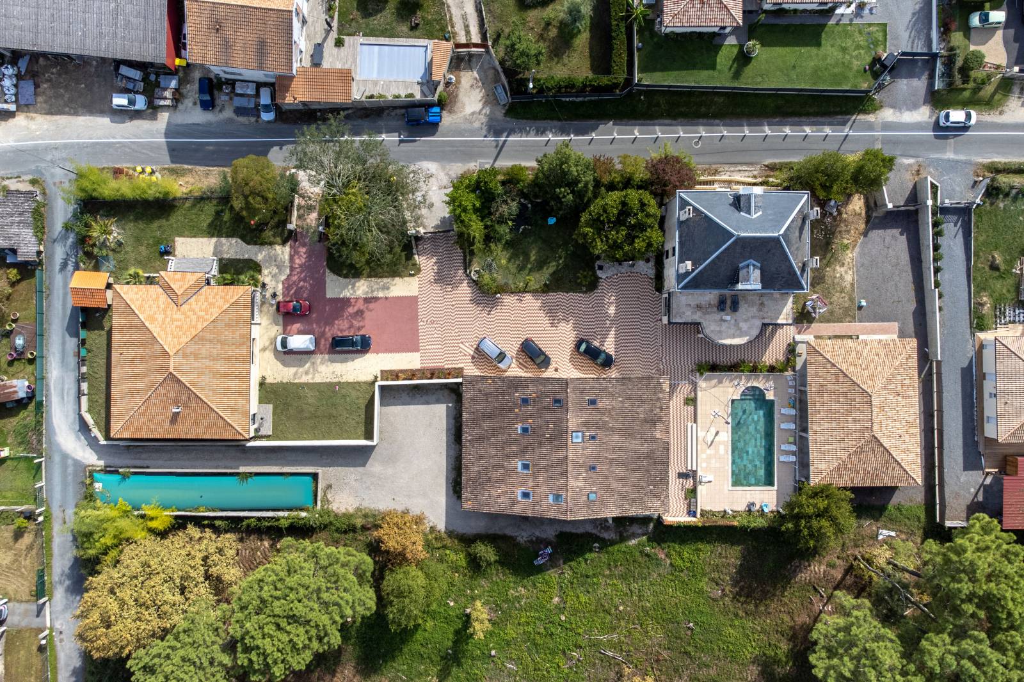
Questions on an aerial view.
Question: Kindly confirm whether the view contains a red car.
Yes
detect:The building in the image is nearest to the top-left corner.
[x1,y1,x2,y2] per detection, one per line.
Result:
[0,0,182,73]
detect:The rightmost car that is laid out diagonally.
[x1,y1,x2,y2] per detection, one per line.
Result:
[574,337,614,369]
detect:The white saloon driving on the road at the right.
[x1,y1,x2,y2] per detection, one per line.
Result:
[936,109,976,128]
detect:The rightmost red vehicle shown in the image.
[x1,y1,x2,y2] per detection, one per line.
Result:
[276,298,312,317]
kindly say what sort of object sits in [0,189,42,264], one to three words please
shed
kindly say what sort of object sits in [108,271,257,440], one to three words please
house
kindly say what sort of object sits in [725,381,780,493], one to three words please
swimming pool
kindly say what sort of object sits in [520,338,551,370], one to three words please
car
